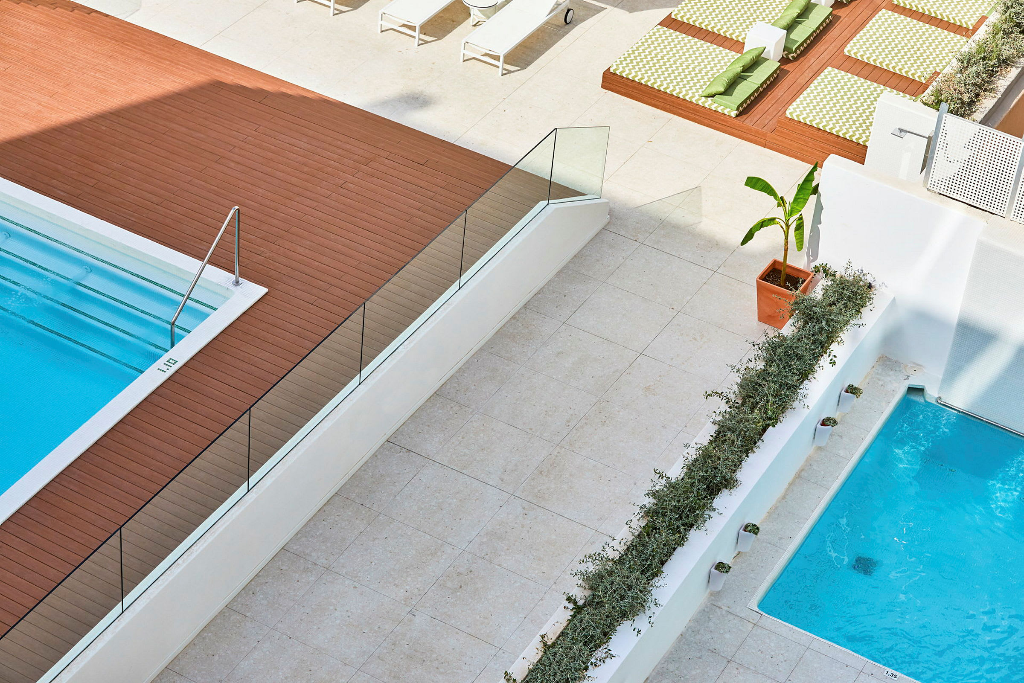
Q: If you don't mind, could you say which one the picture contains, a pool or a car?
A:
pool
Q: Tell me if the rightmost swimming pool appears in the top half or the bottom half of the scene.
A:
bottom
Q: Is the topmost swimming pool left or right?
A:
left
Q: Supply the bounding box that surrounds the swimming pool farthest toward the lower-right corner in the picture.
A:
[761,389,1024,683]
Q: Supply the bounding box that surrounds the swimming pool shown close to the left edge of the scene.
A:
[0,194,235,486]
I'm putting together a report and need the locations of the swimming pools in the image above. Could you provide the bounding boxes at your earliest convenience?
[0,194,235,486]
[761,389,1024,683]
